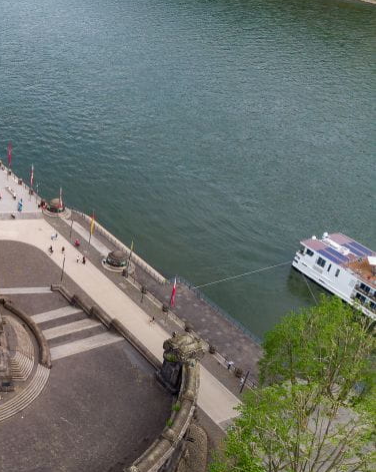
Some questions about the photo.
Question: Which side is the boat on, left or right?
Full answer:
The boat is on the right side of the image.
